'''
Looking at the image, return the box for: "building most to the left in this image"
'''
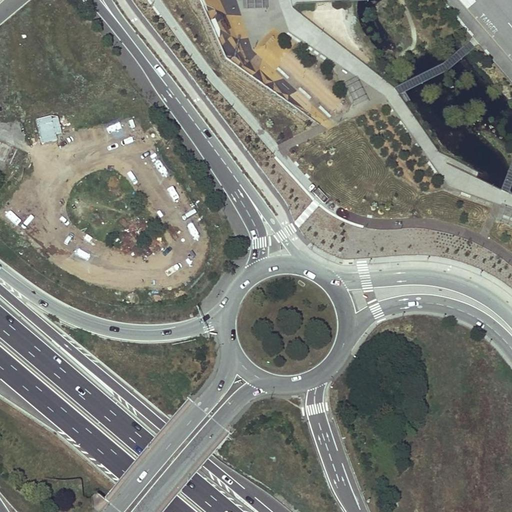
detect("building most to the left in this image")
[36,114,61,144]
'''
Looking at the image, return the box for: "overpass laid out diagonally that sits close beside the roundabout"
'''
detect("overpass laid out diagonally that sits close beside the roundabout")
[104,398,230,512]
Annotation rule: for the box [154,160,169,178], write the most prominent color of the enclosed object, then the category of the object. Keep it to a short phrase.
white camper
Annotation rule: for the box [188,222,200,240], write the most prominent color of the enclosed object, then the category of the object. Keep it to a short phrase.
white vehicle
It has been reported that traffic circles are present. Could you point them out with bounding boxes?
[188,234,378,432]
